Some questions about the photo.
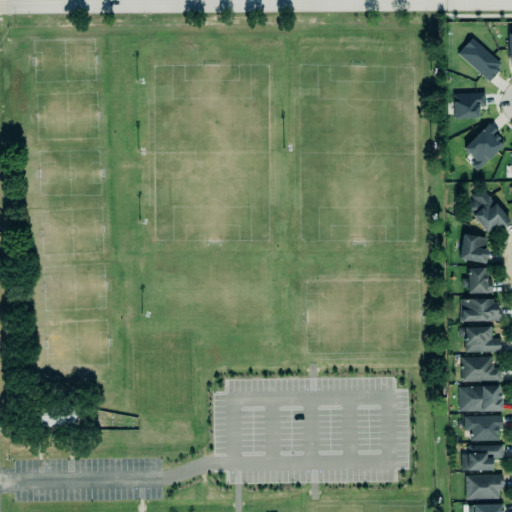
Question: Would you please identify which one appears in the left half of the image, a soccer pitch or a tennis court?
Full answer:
What appears in the left half of the image is a soccer pitch.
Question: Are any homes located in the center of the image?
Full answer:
No, no home can be made out in the center of the image.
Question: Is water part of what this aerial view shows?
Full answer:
No, the scene doesn't show any water.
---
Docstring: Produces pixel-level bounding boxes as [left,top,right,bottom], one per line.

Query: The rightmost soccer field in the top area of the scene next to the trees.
[294,65,416,241]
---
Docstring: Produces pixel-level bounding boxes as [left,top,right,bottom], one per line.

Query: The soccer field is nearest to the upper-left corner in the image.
[35,38,97,82]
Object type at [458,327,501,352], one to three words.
house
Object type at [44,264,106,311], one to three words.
soccer field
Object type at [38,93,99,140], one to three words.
soccer field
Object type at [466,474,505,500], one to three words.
house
